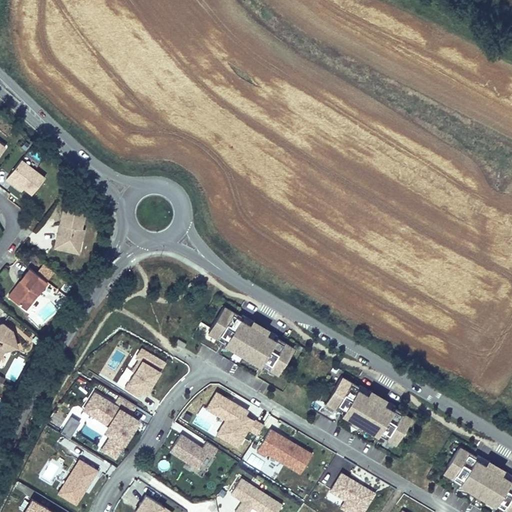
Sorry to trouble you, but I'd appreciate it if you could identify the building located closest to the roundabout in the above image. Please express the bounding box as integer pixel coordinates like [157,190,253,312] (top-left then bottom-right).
[54,210,86,254]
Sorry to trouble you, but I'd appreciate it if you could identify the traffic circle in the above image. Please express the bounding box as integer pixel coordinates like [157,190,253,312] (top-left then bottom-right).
[118,176,192,250]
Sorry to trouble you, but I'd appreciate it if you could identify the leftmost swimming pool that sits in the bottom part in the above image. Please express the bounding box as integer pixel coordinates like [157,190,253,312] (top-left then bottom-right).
[6,356,26,381]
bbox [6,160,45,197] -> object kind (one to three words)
house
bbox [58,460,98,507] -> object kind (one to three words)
house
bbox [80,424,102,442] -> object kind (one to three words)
swimming pool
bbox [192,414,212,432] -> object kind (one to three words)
swimming pool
